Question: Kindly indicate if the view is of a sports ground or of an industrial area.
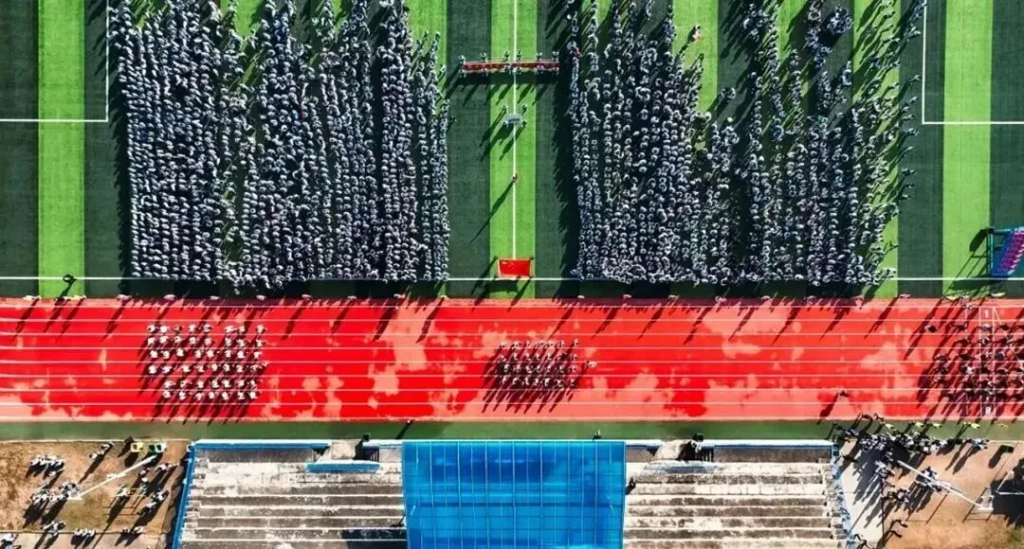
sports ground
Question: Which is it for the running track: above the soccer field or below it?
below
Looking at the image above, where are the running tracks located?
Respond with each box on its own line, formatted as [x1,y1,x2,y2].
[0,299,1024,422]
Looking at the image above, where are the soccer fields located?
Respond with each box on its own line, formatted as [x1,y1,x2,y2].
[0,0,1024,299]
